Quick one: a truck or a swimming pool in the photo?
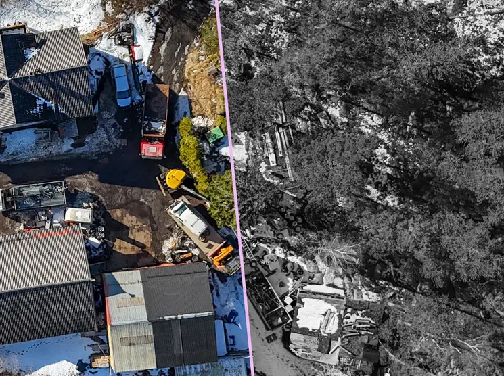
truck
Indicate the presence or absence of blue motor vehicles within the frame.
Yes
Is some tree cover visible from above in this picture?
Yes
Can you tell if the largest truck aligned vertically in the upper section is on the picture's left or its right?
left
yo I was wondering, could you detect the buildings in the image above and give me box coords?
[0,28,92,132]
[0,223,97,346]
[99,263,219,373]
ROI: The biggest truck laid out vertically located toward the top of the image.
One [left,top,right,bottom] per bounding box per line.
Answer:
[139,81,172,161]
